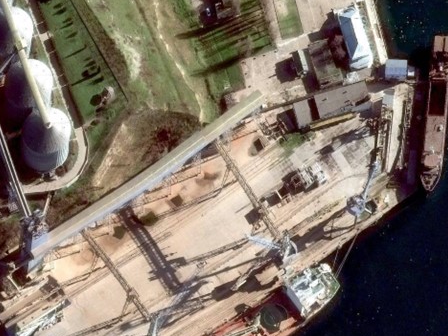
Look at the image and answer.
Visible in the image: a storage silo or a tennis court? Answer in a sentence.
Looking from above, you can make out a storage silo.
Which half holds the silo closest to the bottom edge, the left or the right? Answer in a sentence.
You can find the silo closest to the bottom edge on the left side of the picture.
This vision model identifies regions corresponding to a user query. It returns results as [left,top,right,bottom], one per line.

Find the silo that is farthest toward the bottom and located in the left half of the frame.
[20,109,72,170]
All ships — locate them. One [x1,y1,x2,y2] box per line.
[196,260,339,336]
[421,36,448,193]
